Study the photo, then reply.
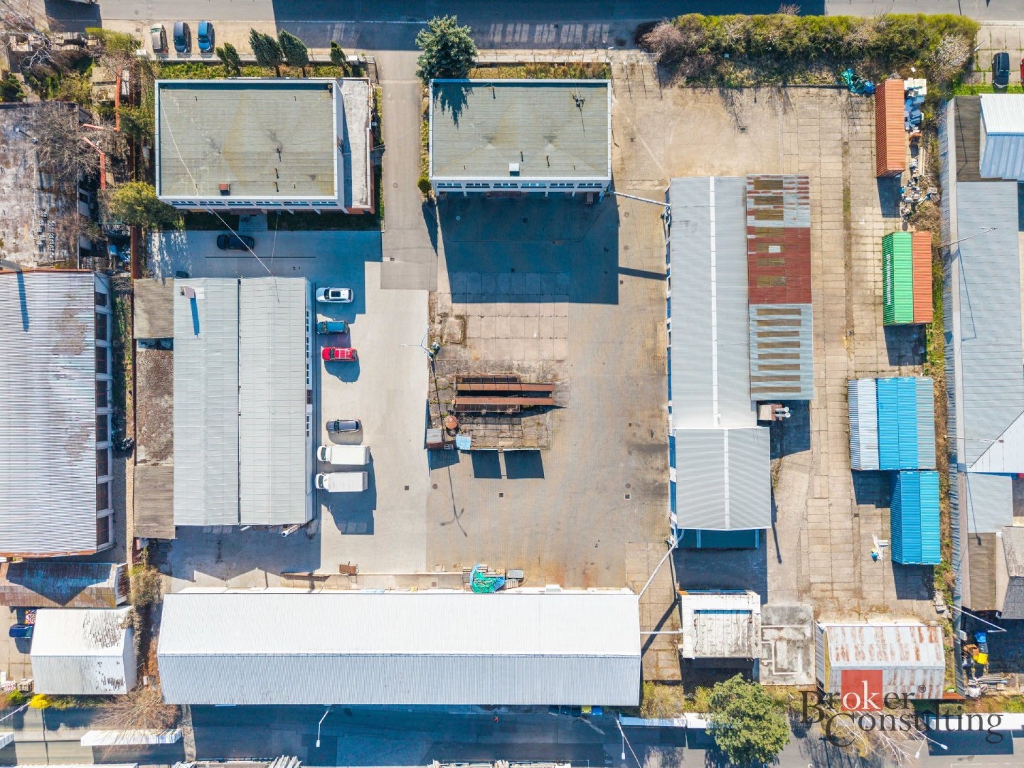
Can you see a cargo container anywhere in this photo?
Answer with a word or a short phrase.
Yes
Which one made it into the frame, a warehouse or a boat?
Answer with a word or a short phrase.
warehouse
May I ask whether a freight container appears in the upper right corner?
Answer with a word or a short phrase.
Yes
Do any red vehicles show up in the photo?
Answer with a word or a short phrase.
Yes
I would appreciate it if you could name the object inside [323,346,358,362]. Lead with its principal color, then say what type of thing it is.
red car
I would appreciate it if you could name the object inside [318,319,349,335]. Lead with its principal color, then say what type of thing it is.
blue car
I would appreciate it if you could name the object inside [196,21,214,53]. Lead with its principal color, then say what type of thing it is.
blue car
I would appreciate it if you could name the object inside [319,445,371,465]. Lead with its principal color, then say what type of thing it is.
white vehicle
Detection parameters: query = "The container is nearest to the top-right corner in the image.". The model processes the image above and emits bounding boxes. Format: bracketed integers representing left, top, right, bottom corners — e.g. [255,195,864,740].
[874,79,906,177]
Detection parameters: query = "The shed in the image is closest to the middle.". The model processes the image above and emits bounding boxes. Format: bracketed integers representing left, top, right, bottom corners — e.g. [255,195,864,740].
[425,428,457,452]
